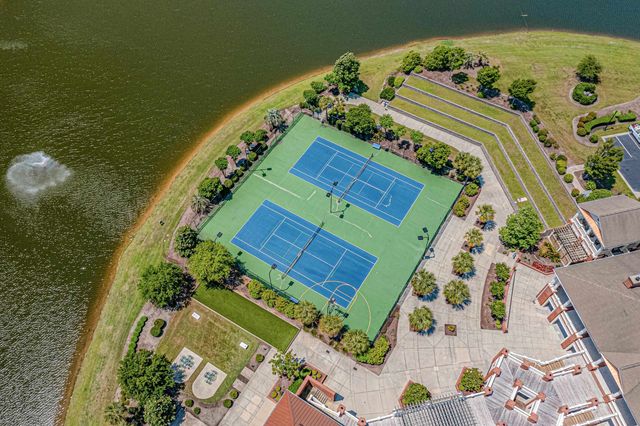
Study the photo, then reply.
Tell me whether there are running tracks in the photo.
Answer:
No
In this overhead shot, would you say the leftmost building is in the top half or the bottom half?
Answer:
bottom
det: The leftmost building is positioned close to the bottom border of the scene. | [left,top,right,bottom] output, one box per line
[264,390,343,426]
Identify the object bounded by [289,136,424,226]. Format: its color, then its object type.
blue tennis court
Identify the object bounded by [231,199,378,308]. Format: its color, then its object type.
blue tennis court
